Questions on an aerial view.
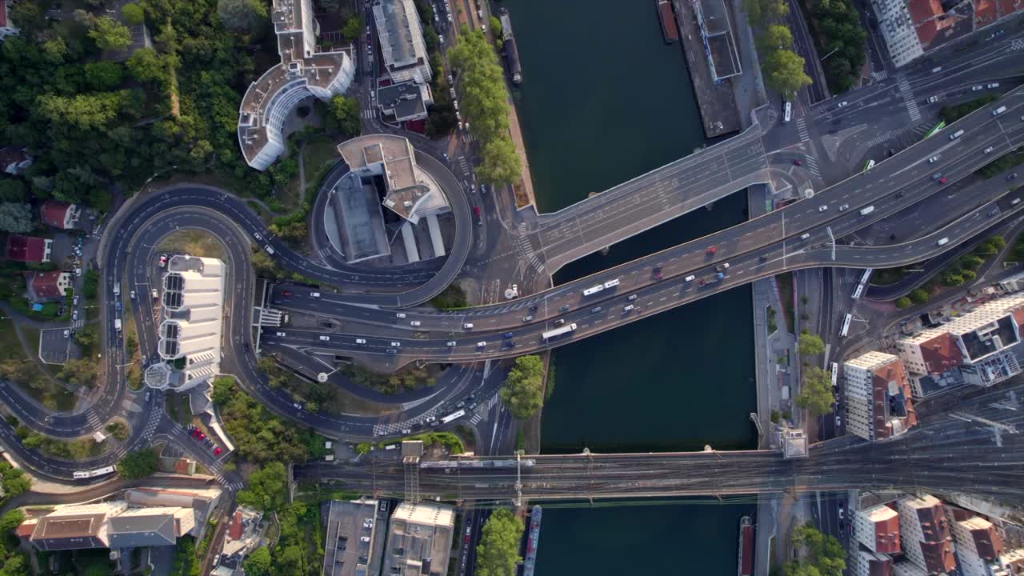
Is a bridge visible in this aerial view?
Yes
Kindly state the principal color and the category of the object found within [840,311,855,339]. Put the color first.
white vehicle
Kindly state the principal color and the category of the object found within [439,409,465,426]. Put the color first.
white vehicle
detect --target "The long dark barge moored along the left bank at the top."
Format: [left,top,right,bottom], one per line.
[499,7,521,84]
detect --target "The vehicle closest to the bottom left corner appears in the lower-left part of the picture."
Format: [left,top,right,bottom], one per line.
[70,466,115,481]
